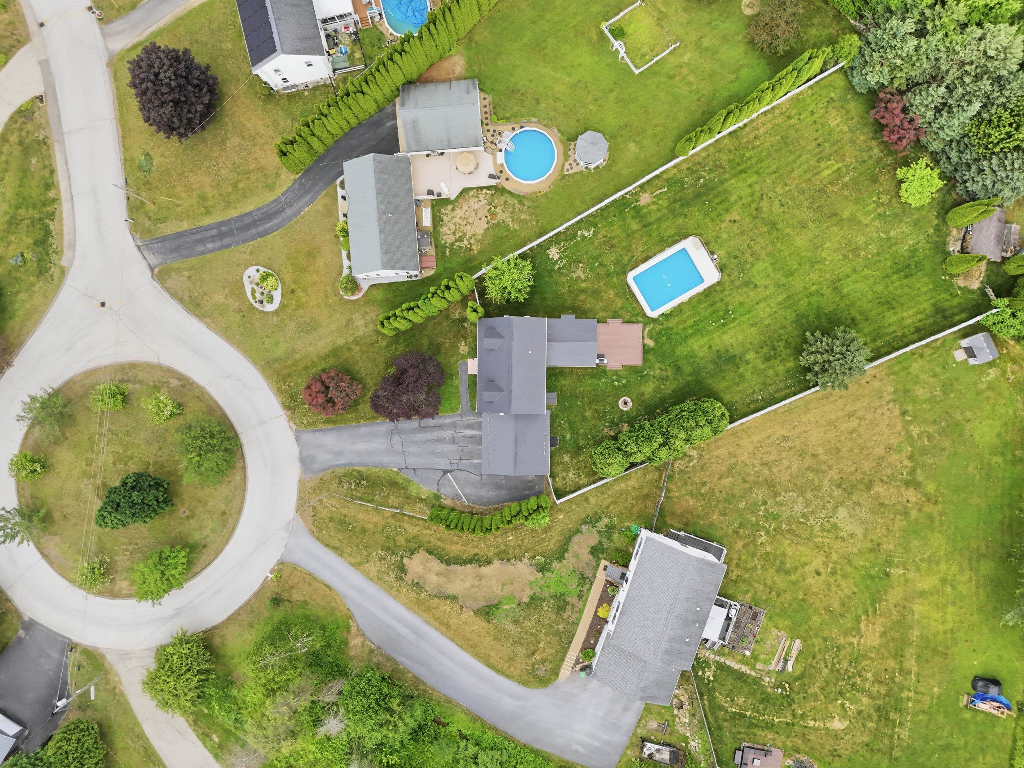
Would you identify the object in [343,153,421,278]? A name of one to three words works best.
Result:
house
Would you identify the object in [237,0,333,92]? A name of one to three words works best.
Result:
house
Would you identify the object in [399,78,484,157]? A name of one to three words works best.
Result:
building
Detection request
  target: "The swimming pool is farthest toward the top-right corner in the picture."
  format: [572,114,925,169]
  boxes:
[626,236,720,318]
